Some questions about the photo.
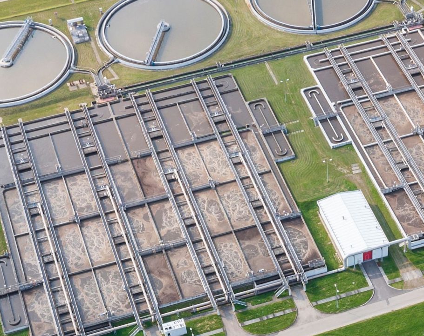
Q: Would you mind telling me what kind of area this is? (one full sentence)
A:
It's an industrial area.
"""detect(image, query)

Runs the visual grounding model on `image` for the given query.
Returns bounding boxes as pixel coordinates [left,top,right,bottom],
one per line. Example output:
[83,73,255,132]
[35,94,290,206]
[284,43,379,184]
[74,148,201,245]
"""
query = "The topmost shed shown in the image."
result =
[65,13,90,44]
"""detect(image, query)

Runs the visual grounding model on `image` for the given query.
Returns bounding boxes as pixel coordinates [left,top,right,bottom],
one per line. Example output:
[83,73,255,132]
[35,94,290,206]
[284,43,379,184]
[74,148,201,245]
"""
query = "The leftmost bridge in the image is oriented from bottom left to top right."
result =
[0,15,36,64]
